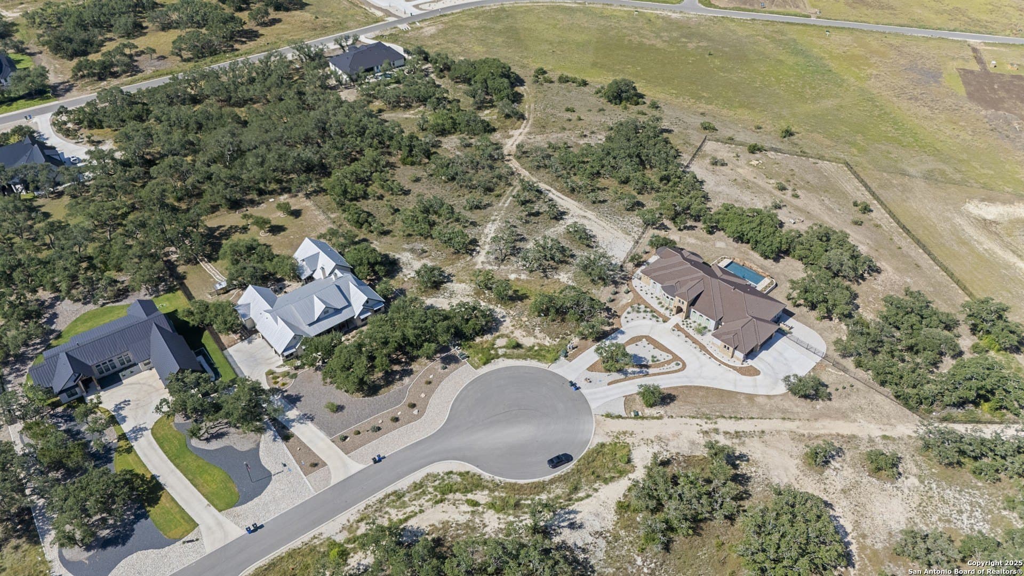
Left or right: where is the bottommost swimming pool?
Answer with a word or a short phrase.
right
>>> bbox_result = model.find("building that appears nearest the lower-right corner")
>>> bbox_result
[640,246,789,366]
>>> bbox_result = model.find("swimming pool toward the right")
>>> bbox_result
[707,254,778,293]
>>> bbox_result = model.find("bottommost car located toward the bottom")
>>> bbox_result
[547,450,574,468]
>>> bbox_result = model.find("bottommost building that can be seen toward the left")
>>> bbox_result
[27,300,203,403]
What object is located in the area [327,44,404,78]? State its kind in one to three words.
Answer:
house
